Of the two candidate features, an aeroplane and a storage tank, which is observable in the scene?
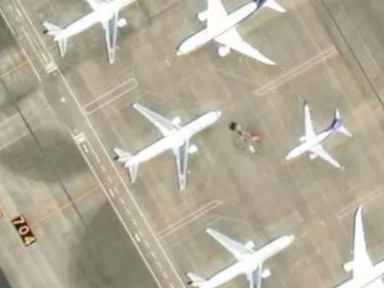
aeroplane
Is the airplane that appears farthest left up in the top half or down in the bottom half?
top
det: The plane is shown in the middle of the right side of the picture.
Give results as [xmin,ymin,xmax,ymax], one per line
[286,100,353,166]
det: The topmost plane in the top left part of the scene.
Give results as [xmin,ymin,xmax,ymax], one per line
[45,0,135,61]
